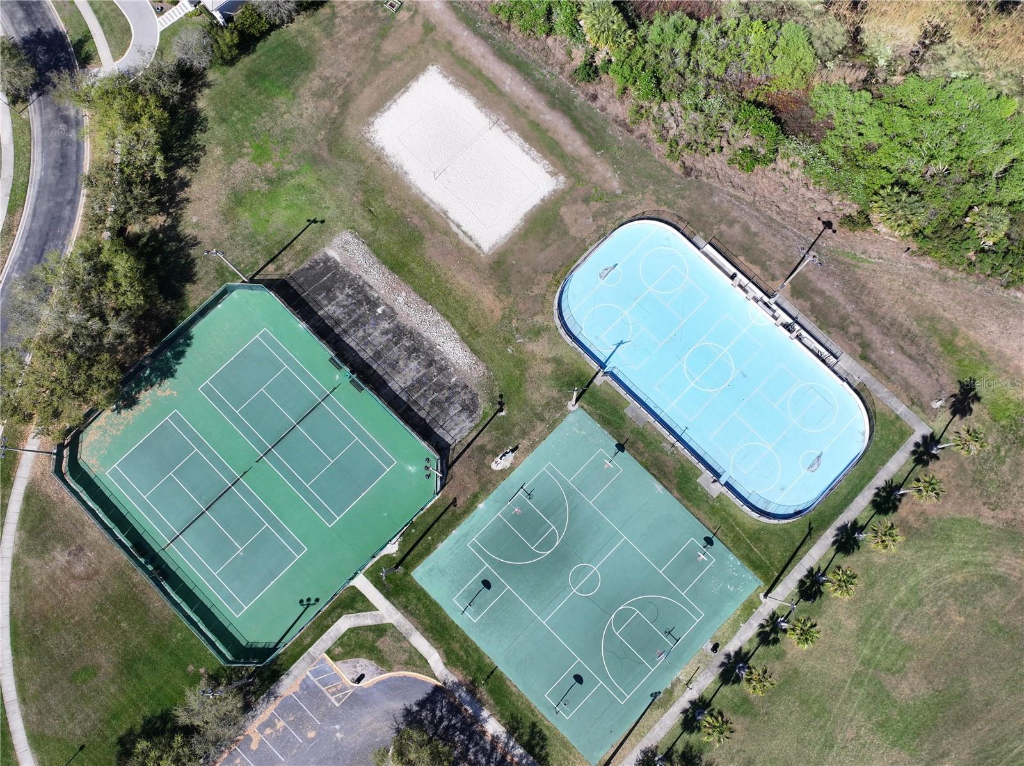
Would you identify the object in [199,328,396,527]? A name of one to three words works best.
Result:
tennis court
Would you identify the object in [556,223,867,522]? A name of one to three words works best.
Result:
sports court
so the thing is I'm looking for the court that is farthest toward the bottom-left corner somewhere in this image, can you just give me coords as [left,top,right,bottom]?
[107,410,306,617]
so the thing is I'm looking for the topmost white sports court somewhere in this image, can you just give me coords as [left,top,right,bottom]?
[364,64,564,255]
